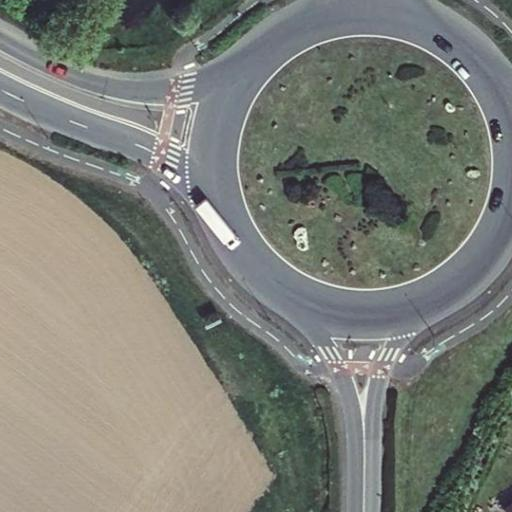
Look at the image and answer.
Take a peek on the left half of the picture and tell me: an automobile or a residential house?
automobile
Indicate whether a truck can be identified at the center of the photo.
Yes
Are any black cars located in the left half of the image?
No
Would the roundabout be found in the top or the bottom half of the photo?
top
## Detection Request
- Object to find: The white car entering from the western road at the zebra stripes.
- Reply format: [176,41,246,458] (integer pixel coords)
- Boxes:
[162,167,183,185]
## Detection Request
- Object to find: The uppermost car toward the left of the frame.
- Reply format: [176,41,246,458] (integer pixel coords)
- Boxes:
[48,63,69,78]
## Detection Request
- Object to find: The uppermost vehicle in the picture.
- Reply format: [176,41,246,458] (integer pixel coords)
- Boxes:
[434,34,454,54]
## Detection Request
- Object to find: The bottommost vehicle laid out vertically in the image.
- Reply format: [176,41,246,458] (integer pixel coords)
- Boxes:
[490,188,503,212]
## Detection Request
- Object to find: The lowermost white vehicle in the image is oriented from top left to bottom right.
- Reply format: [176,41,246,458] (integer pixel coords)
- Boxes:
[196,200,242,250]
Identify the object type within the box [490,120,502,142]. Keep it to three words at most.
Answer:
vehicle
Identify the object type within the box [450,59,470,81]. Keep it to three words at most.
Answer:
vehicle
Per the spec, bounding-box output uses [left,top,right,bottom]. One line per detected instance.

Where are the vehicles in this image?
[490,120,502,142]
[48,63,69,78]
[434,34,454,54]
[162,167,183,185]
[196,200,242,250]
[450,59,470,81]
[490,188,503,212]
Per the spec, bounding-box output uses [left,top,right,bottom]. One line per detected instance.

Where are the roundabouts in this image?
[199,0,512,334]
